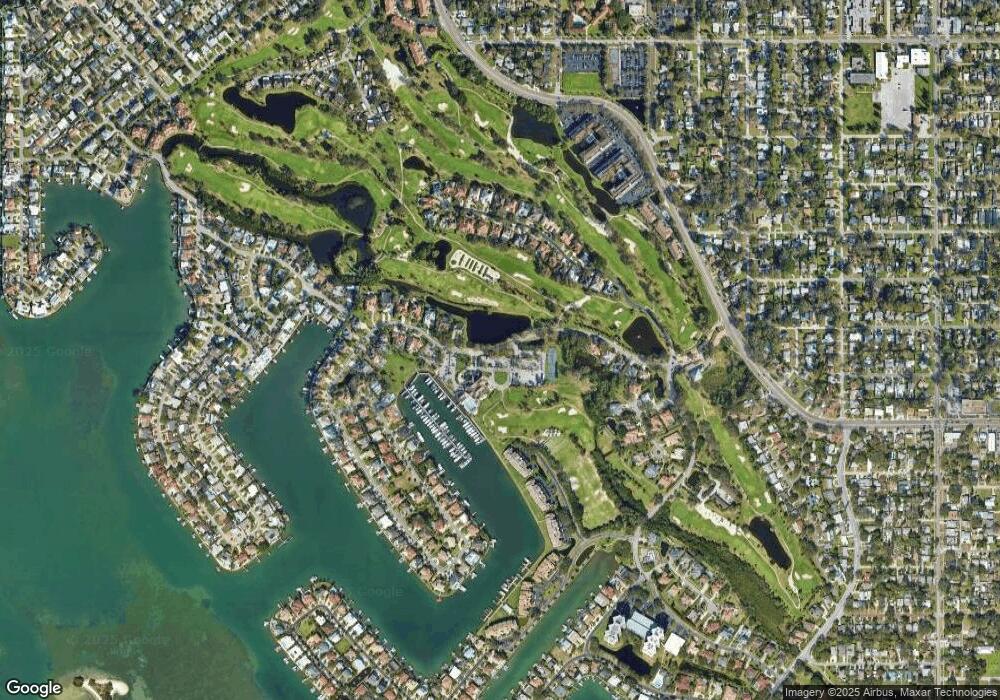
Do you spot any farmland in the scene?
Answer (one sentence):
No, the scene doesn't show any farmland.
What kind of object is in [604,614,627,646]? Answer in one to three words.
building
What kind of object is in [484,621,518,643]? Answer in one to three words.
building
